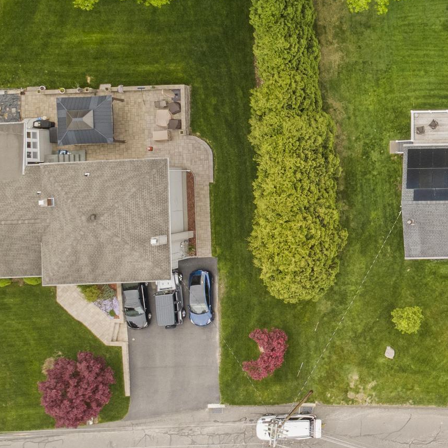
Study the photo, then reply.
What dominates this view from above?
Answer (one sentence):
Most of the picture is covered by grass.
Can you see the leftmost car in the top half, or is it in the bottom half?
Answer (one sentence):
The leftmost car is in the bottom half of the image.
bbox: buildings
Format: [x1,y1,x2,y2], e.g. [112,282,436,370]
[0,121,195,286]
[399,143,448,261]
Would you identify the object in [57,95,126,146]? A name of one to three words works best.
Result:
gazebo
